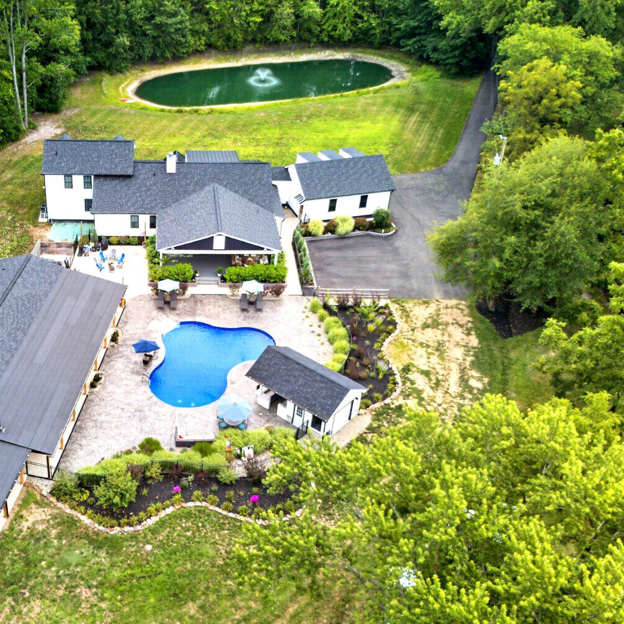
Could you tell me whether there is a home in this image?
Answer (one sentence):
Yes, the frame does contain a home.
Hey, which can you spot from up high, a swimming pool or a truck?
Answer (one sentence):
Of the two, only a swimming pool appears.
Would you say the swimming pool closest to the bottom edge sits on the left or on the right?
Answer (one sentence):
The swimming pool closest to the bottom edge sits on the left side.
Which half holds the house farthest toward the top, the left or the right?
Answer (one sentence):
The house farthest toward the top is on the left side of the image.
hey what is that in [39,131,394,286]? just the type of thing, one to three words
house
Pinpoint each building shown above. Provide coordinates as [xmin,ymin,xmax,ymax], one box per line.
[0,253,129,537]
[39,131,394,286]
[245,346,365,440]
